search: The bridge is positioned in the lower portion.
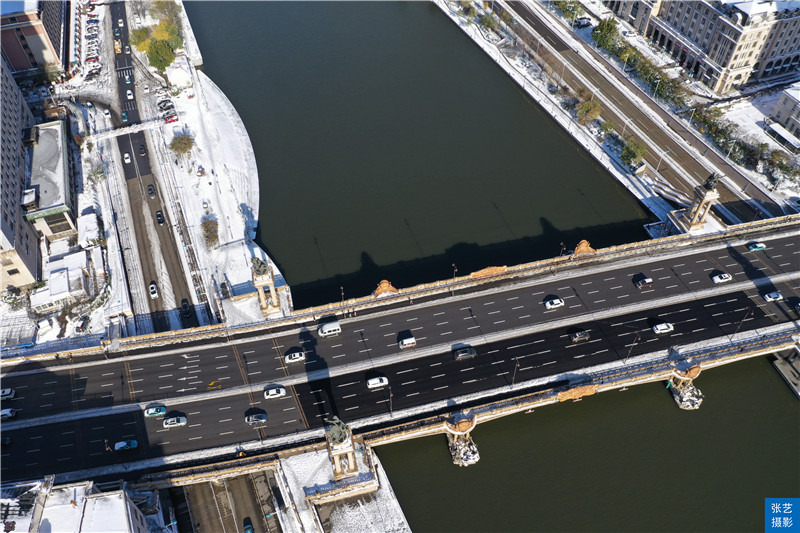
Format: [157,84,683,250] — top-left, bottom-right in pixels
[0,202,800,533]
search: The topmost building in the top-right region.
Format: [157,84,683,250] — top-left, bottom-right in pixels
[604,0,800,92]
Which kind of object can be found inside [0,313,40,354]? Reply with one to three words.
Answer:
building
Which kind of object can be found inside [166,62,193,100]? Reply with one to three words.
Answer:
building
